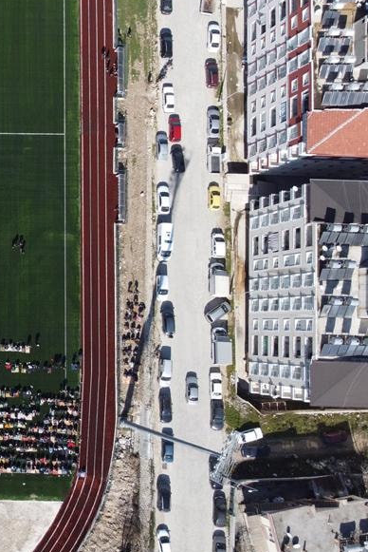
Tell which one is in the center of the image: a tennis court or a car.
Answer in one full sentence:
There is a car in the center of the image.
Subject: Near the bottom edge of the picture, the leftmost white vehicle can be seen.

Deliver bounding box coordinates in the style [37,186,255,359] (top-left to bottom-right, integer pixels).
[156,525,172,552]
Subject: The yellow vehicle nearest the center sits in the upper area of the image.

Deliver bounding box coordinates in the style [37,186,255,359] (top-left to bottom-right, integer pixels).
[207,184,222,209]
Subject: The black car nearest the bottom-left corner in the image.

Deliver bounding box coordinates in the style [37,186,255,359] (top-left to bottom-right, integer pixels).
[156,477,172,510]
